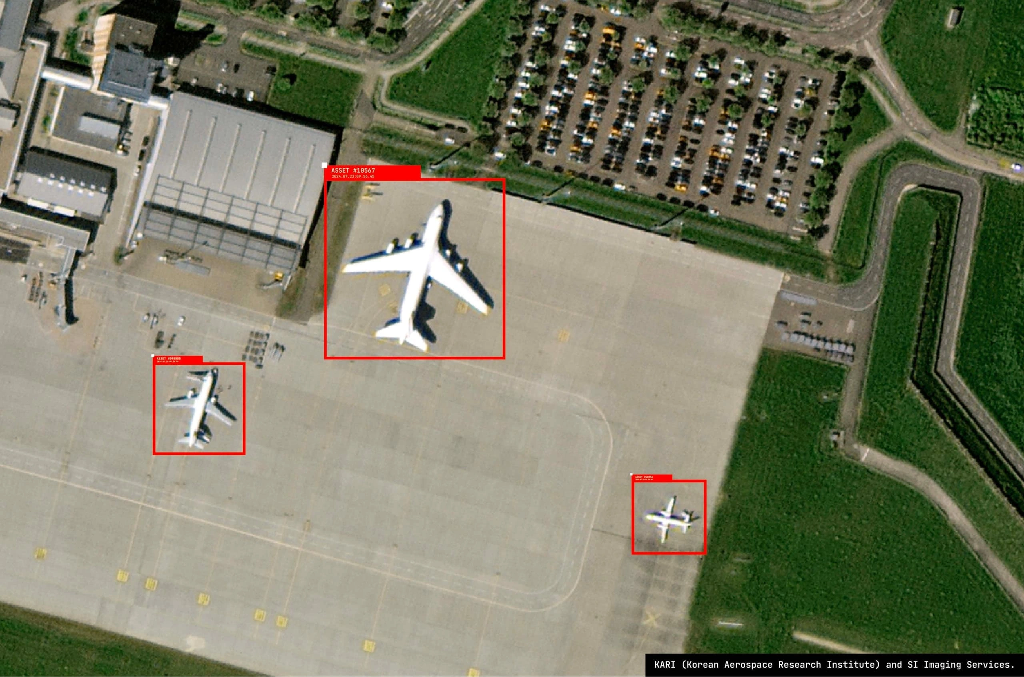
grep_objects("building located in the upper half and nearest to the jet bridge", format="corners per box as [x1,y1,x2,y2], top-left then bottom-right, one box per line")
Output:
[0,209,89,251]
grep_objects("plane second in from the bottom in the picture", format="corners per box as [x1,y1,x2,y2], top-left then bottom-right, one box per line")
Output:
[165,371,233,449]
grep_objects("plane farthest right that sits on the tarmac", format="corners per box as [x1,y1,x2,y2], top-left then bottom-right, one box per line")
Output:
[646,497,691,544]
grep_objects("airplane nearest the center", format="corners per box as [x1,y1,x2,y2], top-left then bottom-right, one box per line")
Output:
[346,204,488,354]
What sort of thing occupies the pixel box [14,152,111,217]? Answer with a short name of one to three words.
building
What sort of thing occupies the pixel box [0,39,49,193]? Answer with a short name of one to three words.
building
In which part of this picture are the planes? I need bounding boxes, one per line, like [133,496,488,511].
[165,371,233,449]
[646,497,691,544]
[346,204,488,354]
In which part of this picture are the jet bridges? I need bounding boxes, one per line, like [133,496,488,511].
[50,247,76,333]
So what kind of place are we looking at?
airport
